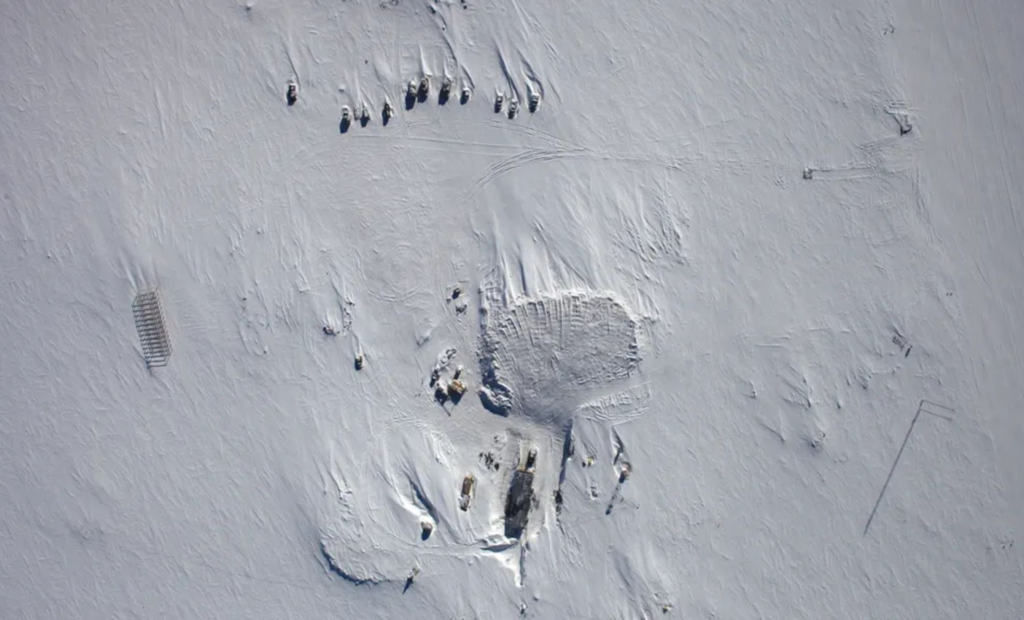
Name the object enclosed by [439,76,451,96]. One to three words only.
vehicle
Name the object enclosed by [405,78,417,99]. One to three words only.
vehicle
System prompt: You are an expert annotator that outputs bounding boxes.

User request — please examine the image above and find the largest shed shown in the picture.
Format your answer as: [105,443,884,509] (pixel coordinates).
[508,471,535,527]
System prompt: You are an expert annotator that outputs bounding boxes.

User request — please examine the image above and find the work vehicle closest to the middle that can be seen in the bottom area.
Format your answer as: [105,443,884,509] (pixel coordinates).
[444,375,466,397]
